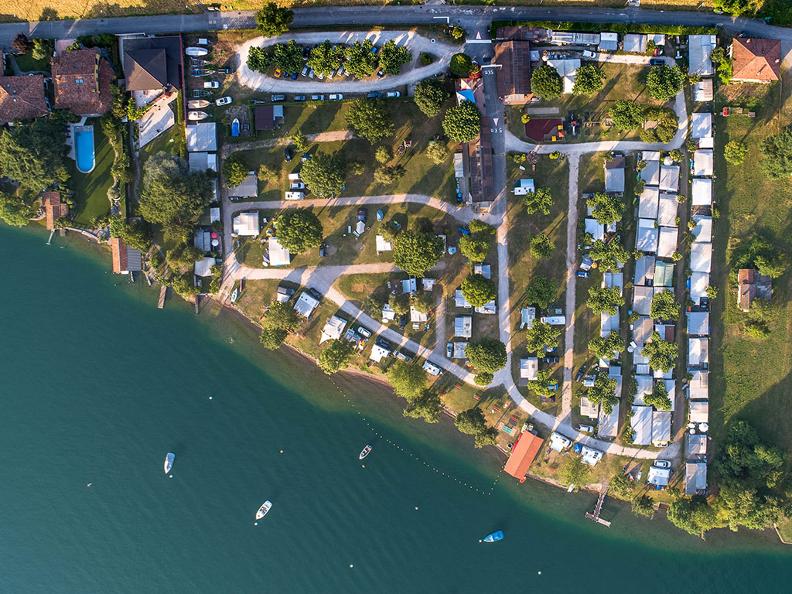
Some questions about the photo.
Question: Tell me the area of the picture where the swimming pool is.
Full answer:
The swimming pool is located in the top left region of the scene.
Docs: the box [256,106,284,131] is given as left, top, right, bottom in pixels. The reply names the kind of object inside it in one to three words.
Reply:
shed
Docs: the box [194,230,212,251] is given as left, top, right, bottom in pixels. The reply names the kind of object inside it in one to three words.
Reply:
house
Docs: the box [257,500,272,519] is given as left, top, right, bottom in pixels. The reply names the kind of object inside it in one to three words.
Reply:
boat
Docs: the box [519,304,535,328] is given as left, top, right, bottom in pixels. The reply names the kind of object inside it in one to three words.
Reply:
camper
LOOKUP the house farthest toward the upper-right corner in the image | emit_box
[730,37,783,82]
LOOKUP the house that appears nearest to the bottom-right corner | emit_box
[684,460,706,495]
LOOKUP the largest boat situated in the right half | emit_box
[483,530,505,542]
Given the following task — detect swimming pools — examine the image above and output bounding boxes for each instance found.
[73,125,96,172]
